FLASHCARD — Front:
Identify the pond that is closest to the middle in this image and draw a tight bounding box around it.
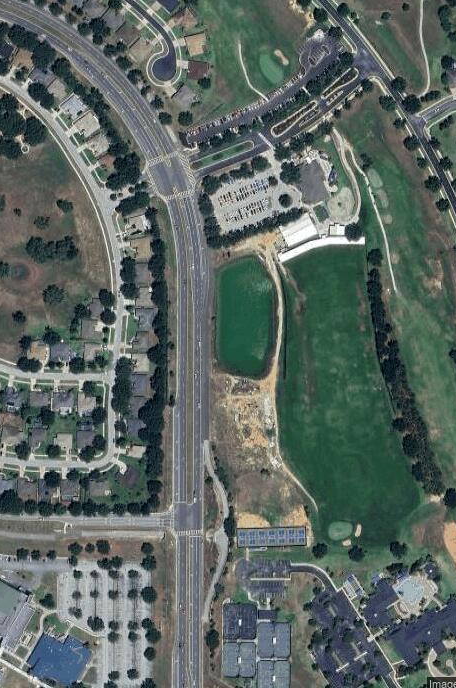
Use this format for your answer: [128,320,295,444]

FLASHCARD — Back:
[214,257,273,378]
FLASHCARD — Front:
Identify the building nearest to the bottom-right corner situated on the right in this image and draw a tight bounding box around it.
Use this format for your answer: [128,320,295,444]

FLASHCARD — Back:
[383,595,456,662]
